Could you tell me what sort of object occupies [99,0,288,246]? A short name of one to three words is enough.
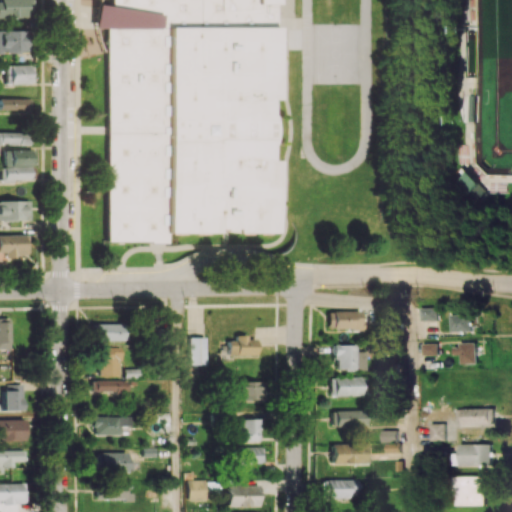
building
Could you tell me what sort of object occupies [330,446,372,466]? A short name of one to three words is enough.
house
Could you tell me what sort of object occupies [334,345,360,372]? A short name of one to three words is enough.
house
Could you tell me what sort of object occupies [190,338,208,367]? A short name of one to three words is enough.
building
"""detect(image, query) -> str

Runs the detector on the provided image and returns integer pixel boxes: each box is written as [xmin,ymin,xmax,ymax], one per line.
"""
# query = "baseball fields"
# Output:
[477,0,512,174]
